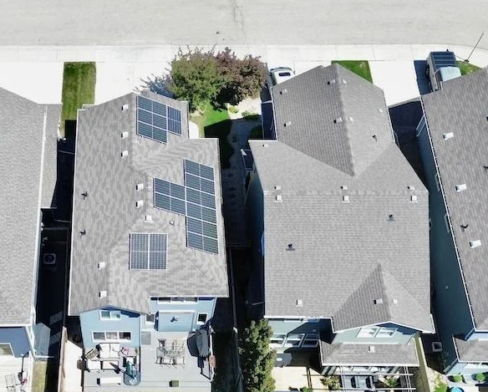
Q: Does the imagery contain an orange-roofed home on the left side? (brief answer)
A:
No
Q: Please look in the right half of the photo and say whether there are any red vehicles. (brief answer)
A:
No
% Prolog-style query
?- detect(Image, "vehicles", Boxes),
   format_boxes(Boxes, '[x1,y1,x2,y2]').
[272,64,301,89]
[424,50,467,91]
